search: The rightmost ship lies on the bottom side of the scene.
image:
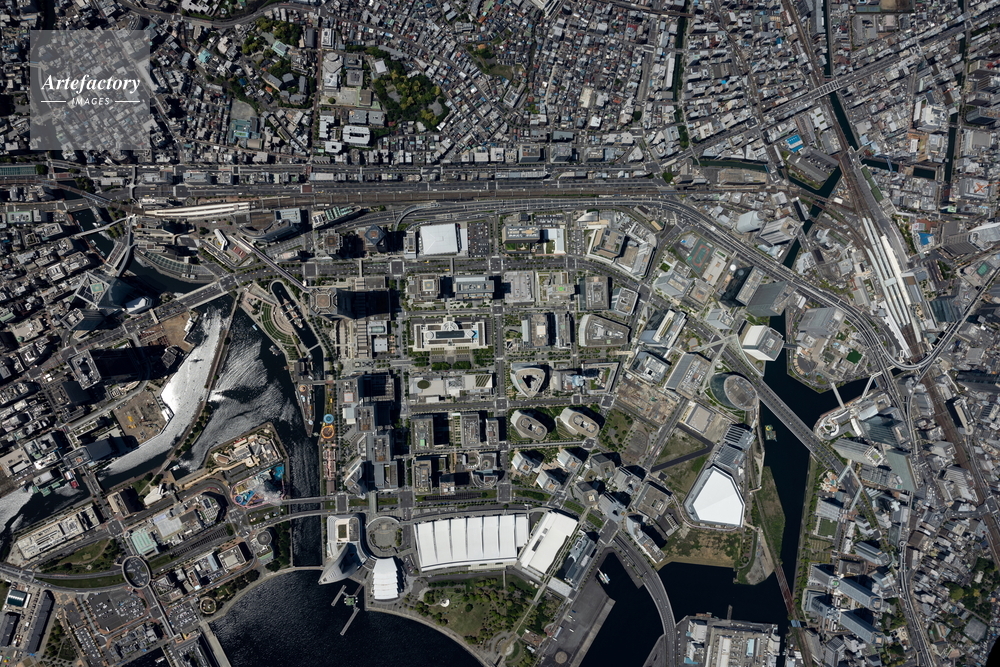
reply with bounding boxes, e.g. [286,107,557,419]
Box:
[765,425,777,441]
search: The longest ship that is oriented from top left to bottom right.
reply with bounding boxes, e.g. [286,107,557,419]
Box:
[281,297,304,330]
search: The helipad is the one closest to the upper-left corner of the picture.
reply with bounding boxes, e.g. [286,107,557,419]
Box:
[90,280,104,295]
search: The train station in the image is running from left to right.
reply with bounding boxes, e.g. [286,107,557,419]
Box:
[146,201,250,218]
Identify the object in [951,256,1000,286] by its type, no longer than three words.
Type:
building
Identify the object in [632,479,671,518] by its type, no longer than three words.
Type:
building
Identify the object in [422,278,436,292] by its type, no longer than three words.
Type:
helipad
